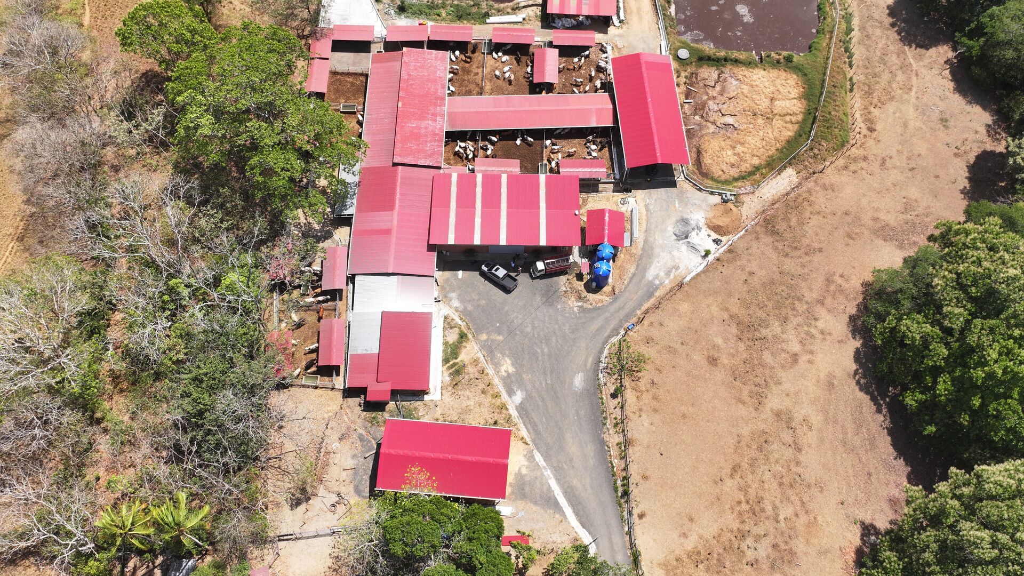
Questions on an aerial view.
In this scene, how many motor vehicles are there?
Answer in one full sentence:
The count of motor vehicles comes to 2.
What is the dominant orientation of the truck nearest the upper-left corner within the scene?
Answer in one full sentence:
I'd say the truck nearest the upper-left corner is aligned diagonally in the picture.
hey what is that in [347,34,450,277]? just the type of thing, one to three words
barn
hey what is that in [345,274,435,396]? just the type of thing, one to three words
barn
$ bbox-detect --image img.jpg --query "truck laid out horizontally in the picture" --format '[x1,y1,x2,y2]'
[530,252,575,278]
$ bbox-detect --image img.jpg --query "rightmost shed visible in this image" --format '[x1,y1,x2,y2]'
[610,52,692,182]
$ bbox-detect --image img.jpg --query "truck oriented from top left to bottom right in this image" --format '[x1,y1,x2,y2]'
[478,261,521,295]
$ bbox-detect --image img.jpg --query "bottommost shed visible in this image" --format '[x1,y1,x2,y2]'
[376,417,511,508]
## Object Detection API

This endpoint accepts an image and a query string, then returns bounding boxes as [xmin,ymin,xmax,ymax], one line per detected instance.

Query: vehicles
[530,252,575,278]
[478,261,521,295]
